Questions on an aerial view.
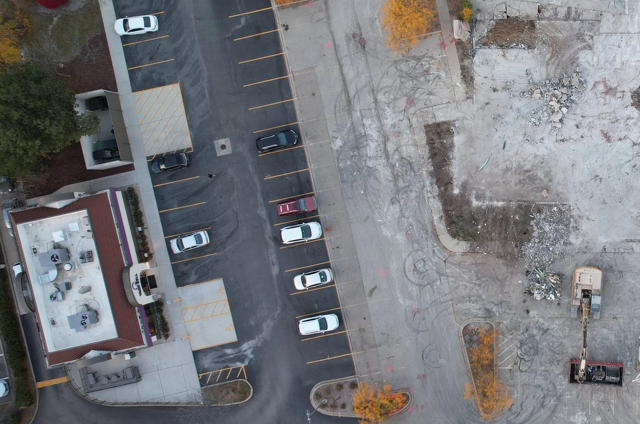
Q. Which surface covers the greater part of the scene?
paved ground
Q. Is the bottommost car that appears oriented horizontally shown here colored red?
No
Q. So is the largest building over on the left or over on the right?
left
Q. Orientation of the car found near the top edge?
from side to side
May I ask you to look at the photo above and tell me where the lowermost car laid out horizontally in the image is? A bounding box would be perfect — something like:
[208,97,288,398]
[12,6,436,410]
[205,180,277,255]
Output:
[295,314,338,336]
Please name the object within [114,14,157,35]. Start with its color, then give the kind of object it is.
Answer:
white car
